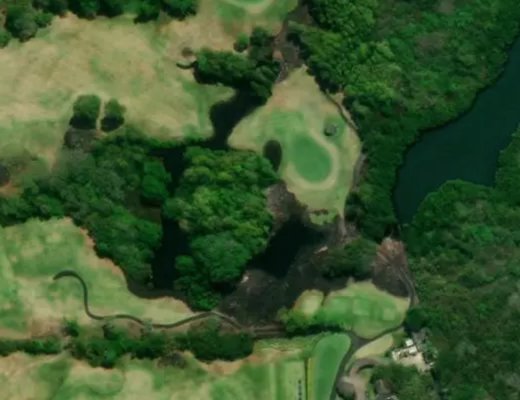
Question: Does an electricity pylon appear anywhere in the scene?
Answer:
No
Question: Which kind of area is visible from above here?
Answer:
golf course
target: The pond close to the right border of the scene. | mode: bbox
[392,25,520,224]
